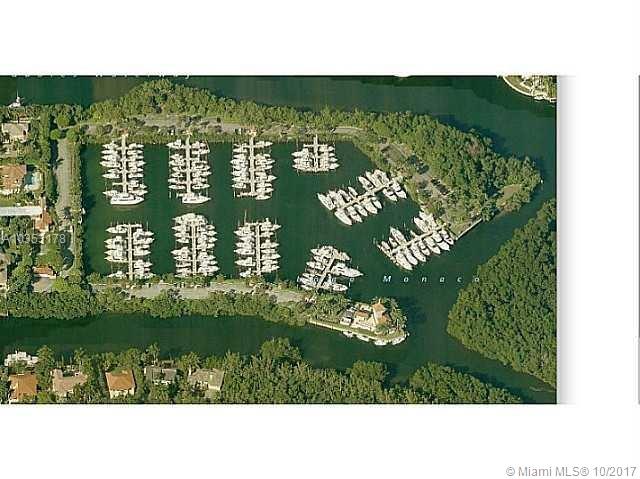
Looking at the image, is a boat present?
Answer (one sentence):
Yes, the photo shows a boat.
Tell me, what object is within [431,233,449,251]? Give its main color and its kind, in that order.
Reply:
white boat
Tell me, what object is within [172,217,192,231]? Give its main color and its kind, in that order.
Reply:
white boat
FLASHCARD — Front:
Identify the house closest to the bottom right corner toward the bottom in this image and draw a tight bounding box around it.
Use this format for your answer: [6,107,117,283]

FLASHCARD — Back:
[354,302,394,331]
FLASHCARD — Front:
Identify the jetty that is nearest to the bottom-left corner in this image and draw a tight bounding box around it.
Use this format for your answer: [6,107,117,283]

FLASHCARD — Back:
[114,224,145,285]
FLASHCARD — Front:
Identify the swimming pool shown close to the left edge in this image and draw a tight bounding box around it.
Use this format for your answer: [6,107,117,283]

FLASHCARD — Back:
[27,174,41,187]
